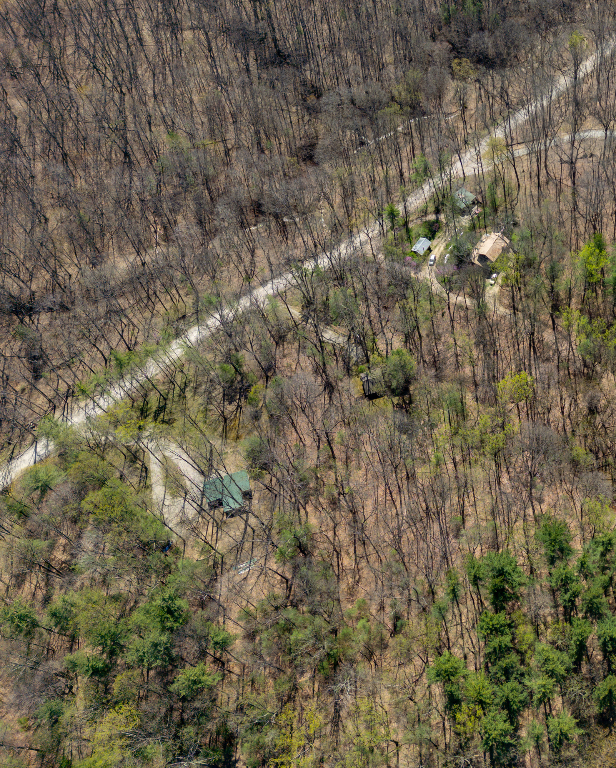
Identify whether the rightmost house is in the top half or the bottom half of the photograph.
top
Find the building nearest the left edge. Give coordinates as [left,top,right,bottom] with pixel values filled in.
[204,469,253,514]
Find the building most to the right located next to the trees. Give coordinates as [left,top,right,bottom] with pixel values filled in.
[469,233,510,268]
